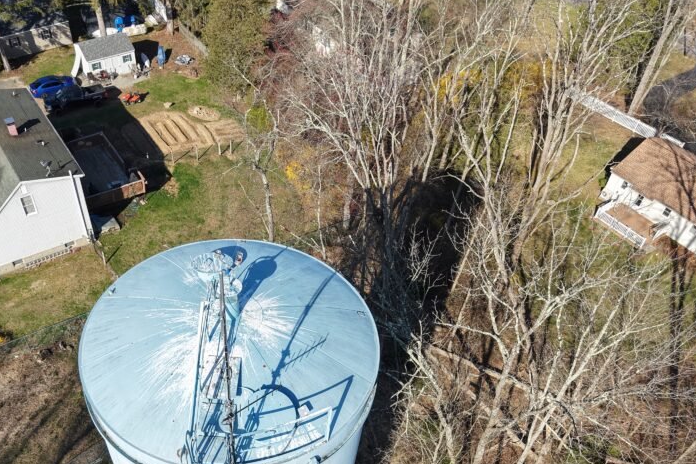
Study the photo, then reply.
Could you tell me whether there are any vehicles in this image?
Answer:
Yes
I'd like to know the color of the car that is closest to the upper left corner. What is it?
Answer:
blue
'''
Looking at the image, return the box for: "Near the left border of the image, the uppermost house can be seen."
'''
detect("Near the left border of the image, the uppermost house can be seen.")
[0,0,74,56]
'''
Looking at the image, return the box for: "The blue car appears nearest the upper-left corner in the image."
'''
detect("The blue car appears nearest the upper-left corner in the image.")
[28,74,77,99]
